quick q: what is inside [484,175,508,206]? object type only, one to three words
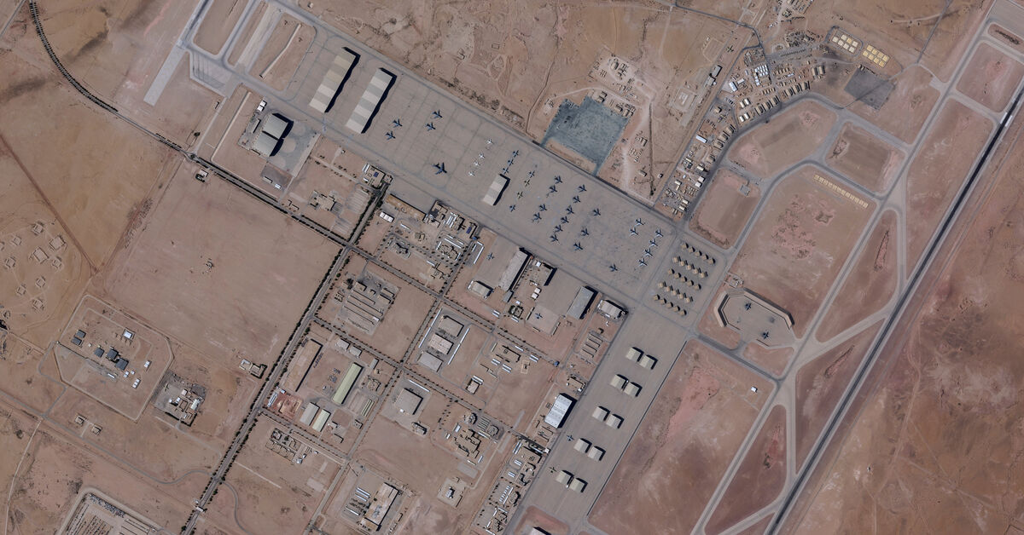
hangar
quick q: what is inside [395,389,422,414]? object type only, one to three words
building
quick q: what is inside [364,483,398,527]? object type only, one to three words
building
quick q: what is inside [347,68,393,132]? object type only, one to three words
hangar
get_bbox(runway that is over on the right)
[762,77,1024,535]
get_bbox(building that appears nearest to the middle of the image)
[499,250,528,290]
